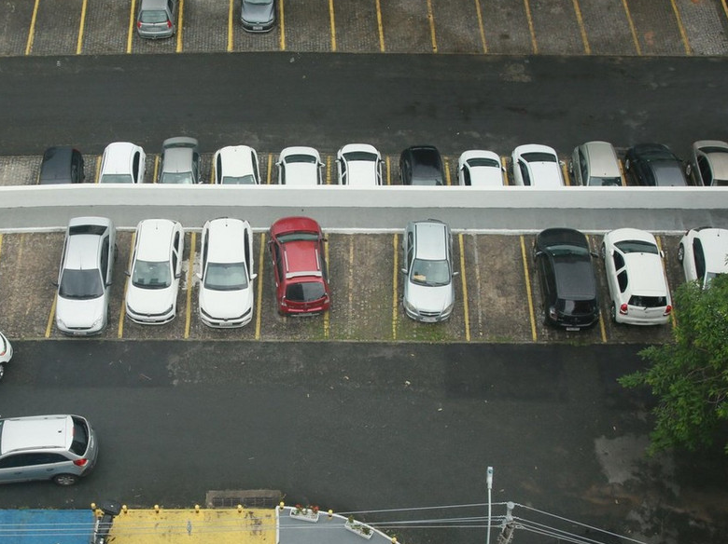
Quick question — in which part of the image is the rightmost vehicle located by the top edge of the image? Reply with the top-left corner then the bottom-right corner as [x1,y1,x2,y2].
[238,0,276,30]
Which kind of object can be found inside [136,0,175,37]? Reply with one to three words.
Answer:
car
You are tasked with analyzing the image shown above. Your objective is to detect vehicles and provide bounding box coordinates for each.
[274,146,326,185]
[606,231,668,324]
[195,219,257,326]
[334,143,386,185]
[629,147,687,186]
[569,143,623,186]
[156,139,200,185]
[51,219,114,331]
[398,147,446,185]
[534,228,600,326]
[238,0,276,30]
[97,142,145,185]
[36,148,84,186]
[0,412,94,482]
[216,142,260,185]
[456,148,508,185]
[136,0,175,37]
[510,143,565,185]
[685,143,728,186]
[400,222,460,323]
[270,219,330,315]
[121,218,183,324]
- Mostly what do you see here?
paved ground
